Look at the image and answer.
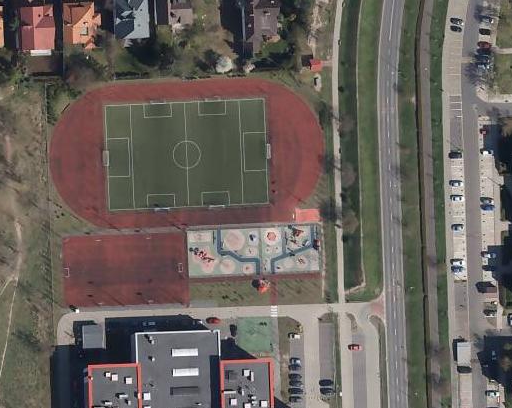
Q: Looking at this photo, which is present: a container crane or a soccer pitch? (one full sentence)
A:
Of the two, only a soccer pitch appears.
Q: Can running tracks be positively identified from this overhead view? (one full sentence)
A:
Yes, the picture does show a running track.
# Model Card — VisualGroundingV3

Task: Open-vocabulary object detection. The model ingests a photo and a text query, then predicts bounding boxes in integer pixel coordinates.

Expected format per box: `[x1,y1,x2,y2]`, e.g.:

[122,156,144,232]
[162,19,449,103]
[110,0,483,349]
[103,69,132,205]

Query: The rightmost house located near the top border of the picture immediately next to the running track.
[244,0,280,54]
